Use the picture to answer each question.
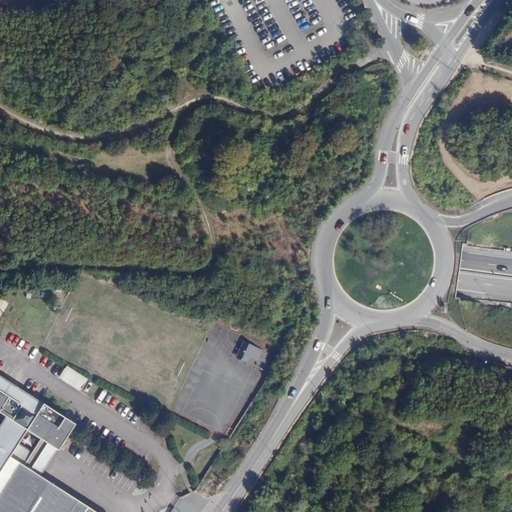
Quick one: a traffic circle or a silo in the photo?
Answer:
traffic circle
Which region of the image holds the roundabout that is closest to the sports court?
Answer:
right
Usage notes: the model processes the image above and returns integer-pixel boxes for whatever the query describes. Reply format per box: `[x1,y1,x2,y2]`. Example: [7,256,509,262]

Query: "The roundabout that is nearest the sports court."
[314,189,454,329]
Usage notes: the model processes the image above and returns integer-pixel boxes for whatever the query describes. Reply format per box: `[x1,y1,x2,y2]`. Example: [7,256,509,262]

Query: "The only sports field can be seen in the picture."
[45,272,206,406]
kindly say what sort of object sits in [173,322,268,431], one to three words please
sports court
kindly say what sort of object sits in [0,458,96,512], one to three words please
building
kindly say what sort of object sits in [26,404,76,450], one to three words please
building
